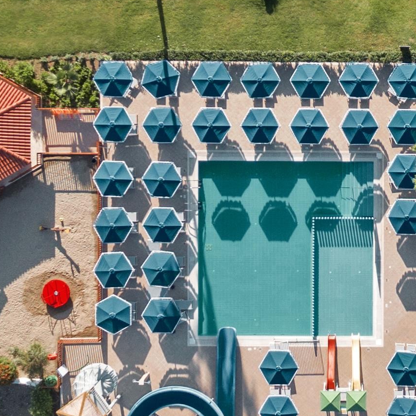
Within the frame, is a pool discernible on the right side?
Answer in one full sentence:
Yes, on the right side there is a pool.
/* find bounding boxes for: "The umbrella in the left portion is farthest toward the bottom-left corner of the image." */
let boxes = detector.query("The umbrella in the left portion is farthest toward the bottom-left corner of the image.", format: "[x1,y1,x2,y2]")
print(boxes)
[97,295,133,336]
